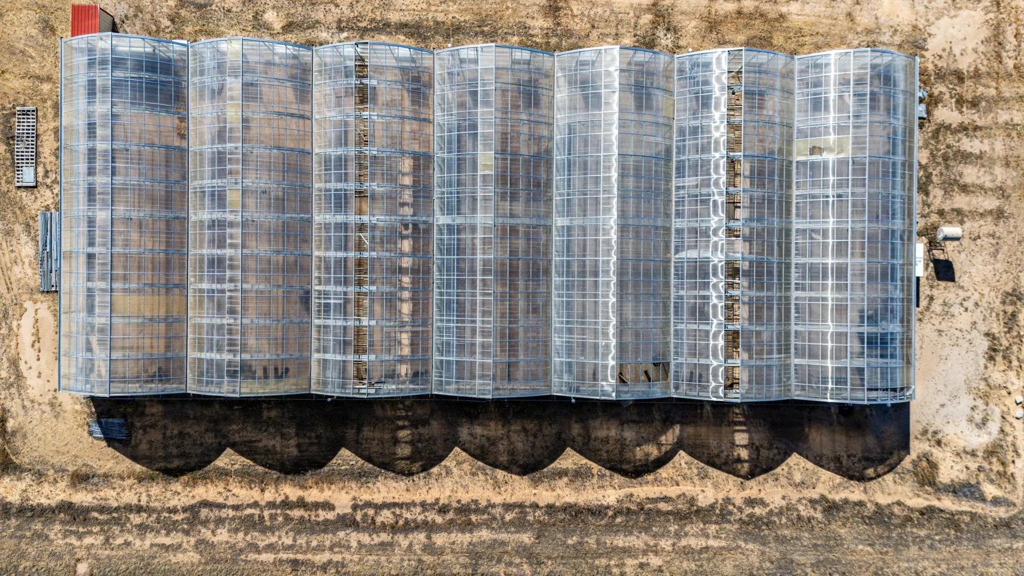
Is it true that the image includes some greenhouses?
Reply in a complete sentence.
Yes, you can see a greenhouse in this photo.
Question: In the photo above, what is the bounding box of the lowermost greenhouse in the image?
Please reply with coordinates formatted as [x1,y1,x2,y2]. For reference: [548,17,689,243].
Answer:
[56,29,921,406]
